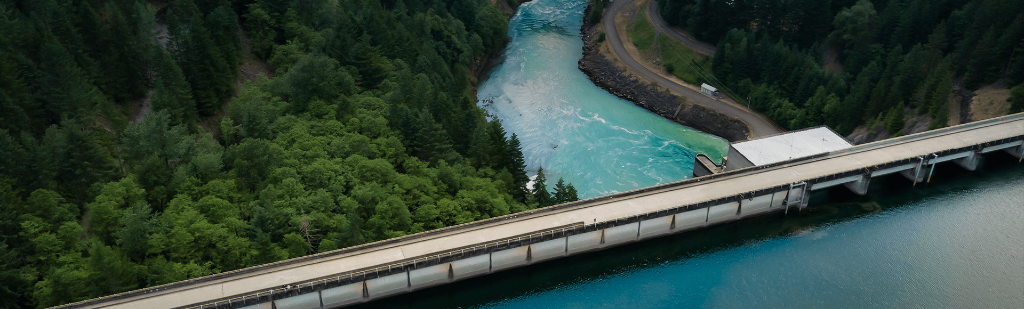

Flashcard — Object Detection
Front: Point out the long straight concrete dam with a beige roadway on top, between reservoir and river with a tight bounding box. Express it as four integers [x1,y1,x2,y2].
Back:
[36,113,1024,309]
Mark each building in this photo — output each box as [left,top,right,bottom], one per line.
[700,85,721,101]
[728,122,859,171]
